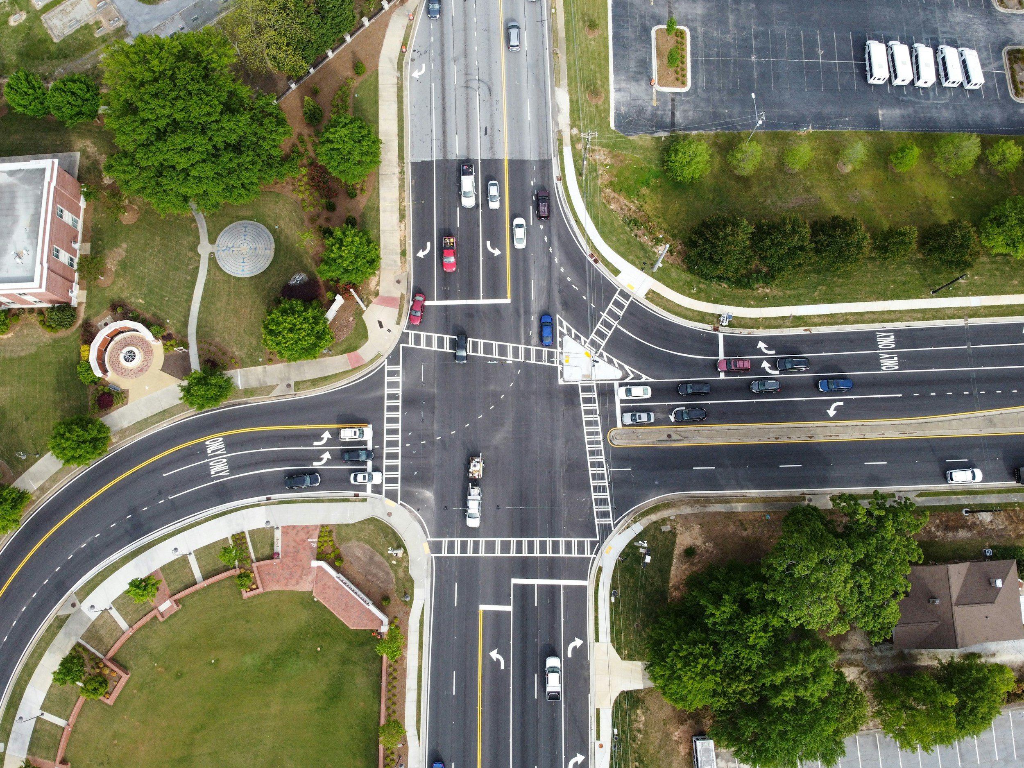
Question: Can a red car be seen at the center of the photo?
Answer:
Yes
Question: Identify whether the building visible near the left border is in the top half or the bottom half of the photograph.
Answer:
top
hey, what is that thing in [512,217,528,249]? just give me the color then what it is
white car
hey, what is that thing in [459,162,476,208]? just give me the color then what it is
white vehicle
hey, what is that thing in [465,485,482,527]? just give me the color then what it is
white vehicle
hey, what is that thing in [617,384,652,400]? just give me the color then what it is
white car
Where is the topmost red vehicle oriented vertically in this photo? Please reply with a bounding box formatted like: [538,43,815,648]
[441,236,457,272]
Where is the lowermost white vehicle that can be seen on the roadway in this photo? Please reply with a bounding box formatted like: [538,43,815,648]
[544,656,563,702]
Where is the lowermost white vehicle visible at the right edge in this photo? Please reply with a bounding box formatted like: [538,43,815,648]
[945,467,983,484]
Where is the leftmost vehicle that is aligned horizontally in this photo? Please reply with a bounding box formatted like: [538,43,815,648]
[284,472,321,489]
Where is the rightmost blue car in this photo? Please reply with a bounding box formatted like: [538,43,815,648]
[818,376,854,393]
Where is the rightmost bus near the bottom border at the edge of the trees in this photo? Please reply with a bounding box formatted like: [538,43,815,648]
[694,735,718,768]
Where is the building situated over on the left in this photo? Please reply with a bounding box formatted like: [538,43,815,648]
[0,156,84,310]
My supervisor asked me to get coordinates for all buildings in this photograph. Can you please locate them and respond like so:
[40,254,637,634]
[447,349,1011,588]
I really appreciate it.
[893,560,1024,649]
[0,156,84,310]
